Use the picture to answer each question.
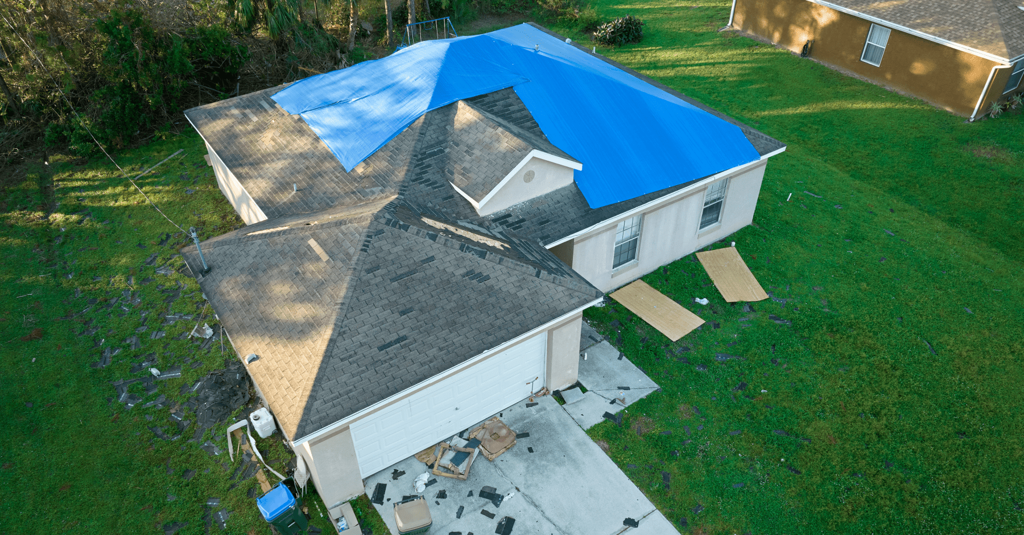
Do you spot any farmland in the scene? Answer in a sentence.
No, there is no farmland in the image.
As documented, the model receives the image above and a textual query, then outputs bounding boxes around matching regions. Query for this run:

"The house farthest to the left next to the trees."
[178,21,787,511]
